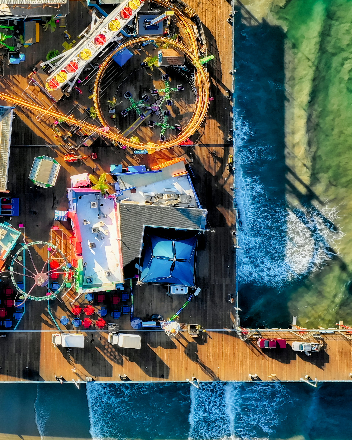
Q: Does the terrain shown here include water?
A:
Yes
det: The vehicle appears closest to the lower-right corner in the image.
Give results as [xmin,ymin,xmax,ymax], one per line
[291,340,321,353]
